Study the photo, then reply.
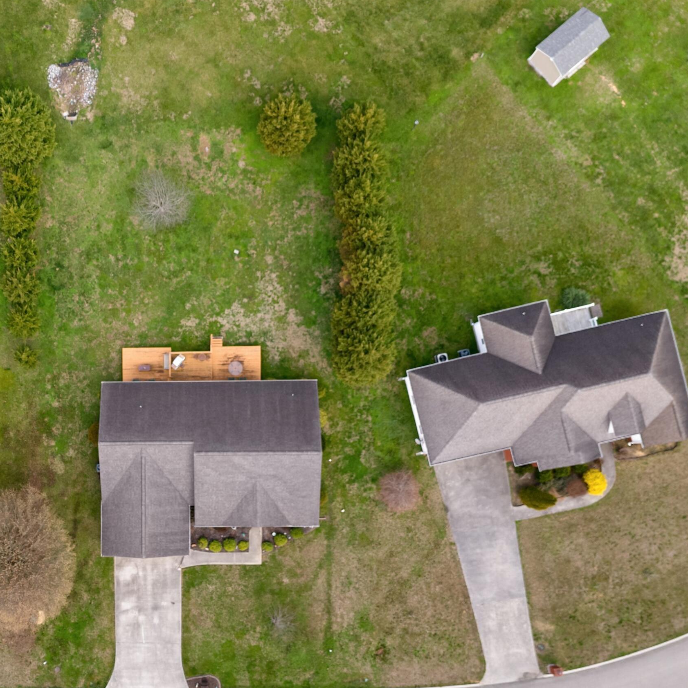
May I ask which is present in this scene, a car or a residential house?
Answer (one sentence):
Visible in the photo is a residential house.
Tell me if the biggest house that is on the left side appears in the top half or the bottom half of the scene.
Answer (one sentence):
It is in the bottom half that the biggest house that is on the left side appears.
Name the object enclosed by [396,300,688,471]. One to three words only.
house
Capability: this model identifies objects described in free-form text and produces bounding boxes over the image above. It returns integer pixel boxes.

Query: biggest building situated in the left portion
[98,379,322,559]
